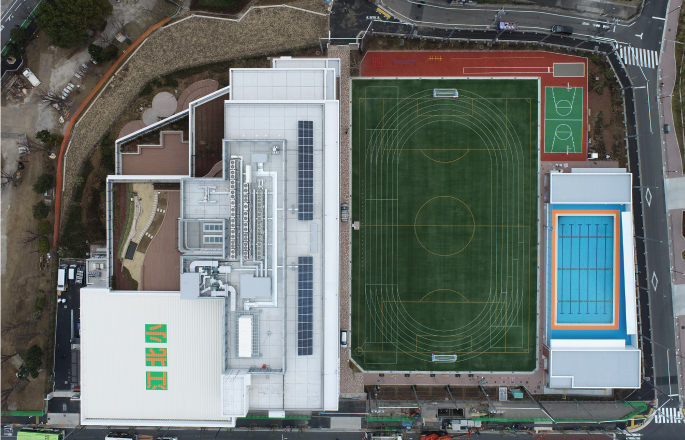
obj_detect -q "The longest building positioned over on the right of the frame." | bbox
[542,169,642,394]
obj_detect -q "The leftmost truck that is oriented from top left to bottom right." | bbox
[22,67,45,90]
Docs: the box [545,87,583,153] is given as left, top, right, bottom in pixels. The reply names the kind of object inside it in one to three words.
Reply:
basketball court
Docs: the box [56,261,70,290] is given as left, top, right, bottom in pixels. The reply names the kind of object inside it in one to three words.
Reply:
vehicle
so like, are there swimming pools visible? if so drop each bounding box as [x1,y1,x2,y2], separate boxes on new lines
[553,210,619,330]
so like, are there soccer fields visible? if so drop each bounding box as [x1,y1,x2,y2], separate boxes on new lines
[349,74,545,377]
